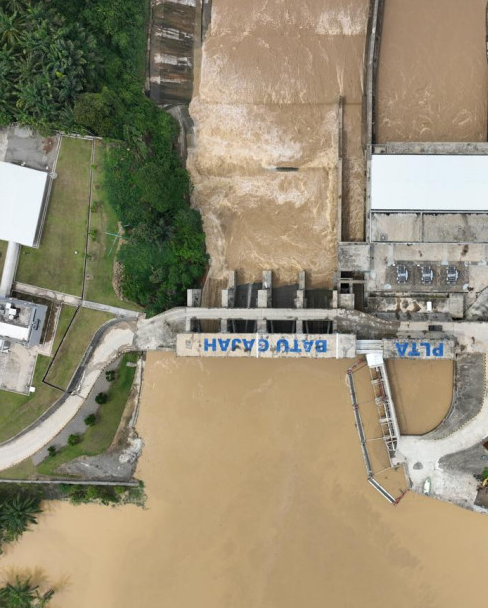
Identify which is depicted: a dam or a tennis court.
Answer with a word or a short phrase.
dam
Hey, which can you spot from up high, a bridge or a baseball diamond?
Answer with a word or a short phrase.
bridge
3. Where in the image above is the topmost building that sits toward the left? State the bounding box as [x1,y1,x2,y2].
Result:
[0,163,54,246]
